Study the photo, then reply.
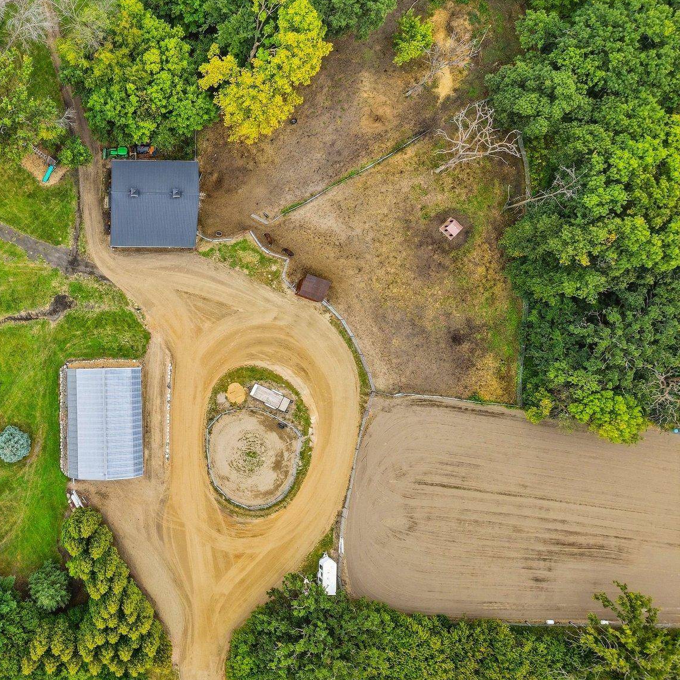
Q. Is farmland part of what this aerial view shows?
Yes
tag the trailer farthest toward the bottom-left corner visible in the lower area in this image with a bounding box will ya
[318,549,336,595]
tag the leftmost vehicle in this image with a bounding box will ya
[102,147,127,160]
